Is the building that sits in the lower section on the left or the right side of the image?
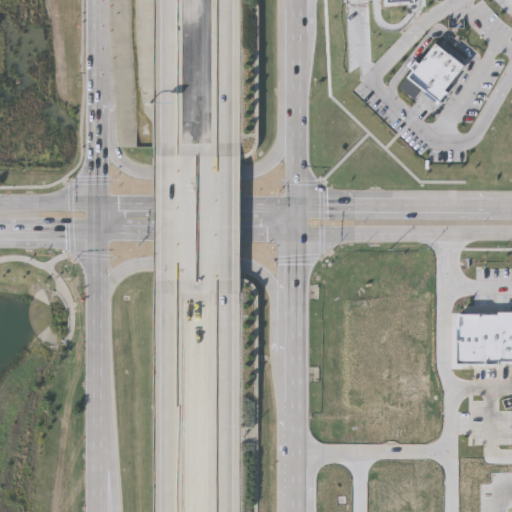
right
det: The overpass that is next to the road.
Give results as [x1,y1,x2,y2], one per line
[154,155,240,280]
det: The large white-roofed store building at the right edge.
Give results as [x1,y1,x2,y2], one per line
[458,311,512,367]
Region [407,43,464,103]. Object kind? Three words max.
building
